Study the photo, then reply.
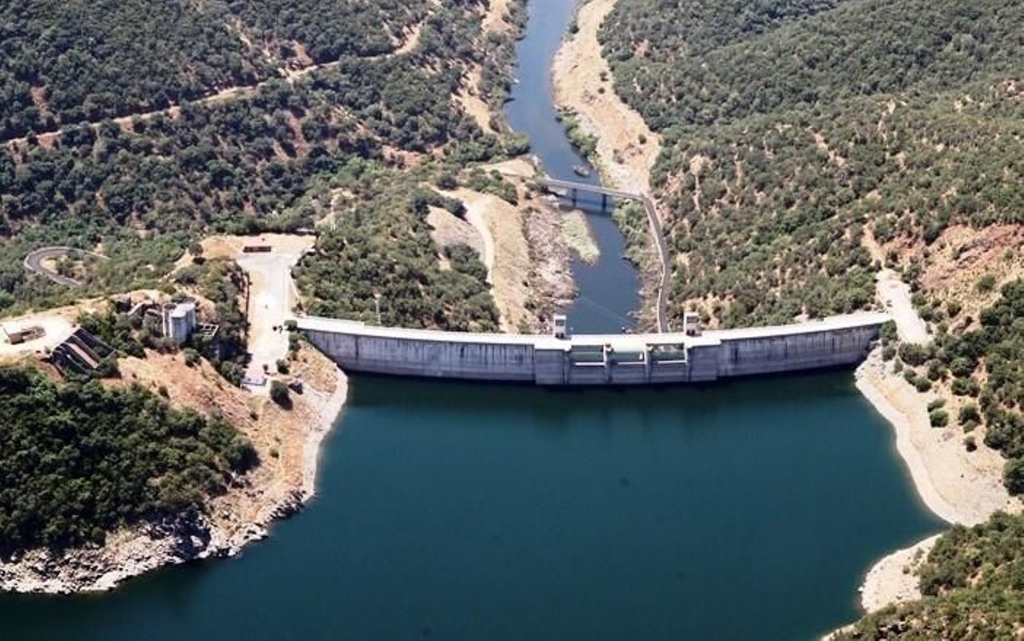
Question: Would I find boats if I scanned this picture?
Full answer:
No, there's no boat here.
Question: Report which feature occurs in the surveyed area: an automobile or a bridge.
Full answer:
Looking from above, you can make out a bridge.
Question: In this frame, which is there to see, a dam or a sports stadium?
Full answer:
There is a dam in the scene.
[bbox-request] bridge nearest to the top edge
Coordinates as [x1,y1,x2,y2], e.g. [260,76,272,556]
[535,176,648,209]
